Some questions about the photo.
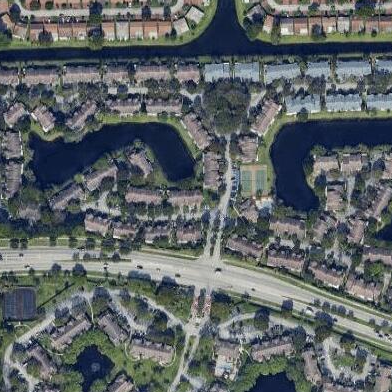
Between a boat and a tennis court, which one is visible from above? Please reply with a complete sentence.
This aerial view contains a tennis court.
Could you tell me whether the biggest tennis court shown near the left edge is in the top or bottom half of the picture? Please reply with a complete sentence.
Seen from above, the biggest tennis court shown near the left edge lies in the bottom half of the view.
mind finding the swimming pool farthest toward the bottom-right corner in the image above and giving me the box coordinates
[216,356,240,381]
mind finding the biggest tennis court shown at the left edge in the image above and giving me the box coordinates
[3,288,36,320]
